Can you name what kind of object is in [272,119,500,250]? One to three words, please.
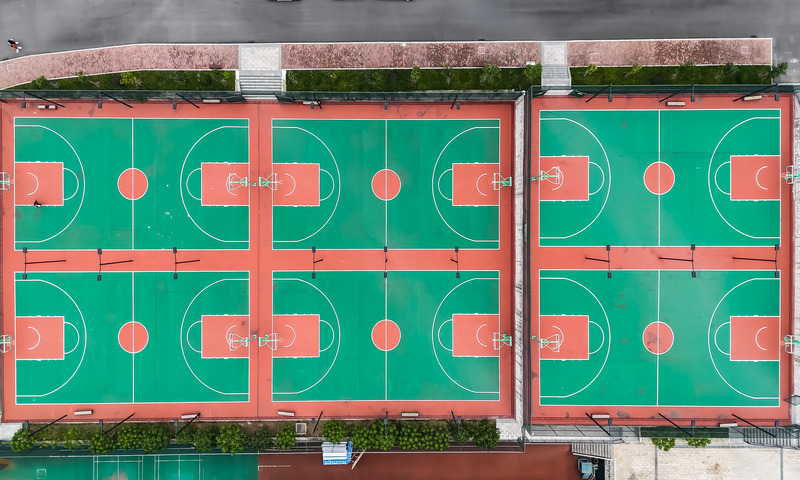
basketball court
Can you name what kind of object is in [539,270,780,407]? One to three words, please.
basketball court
